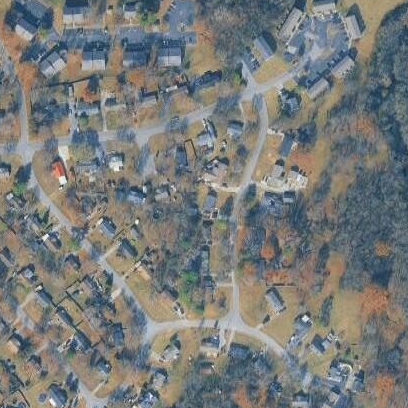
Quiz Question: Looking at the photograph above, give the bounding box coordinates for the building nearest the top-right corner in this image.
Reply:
[343,13,363,40]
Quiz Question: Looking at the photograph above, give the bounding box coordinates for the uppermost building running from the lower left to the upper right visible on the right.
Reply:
[276,7,305,38]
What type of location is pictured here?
residential area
